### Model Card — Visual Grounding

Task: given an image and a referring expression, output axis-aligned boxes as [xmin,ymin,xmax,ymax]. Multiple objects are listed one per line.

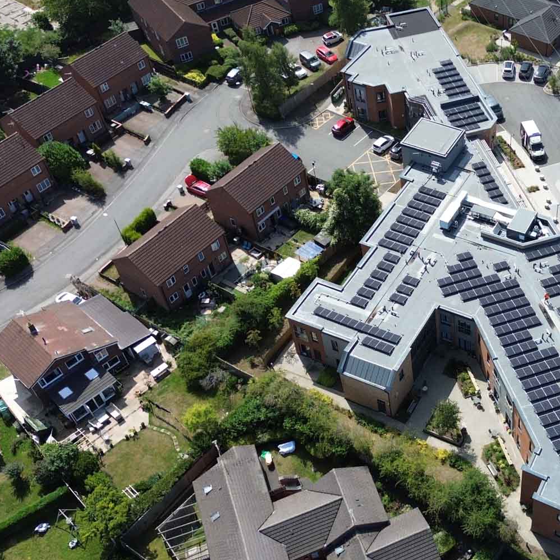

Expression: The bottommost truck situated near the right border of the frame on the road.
[523,119,547,158]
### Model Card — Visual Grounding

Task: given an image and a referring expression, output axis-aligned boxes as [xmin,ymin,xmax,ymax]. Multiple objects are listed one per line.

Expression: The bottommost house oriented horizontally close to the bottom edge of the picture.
[192,437,441,560]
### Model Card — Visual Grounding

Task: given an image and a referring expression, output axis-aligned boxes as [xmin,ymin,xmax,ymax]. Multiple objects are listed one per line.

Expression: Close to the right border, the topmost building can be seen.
[469,0,560,56]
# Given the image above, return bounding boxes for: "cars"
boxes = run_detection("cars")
[299,49,321,68]
[486,95,504,118]
[331,117,357,135]
[320,30,346,46]
[535,64,550,82]
[520,59,533,79]
[370,135,397,154]
[316,47,338,62]
[385,140,402,159]
[503,59,515,79]
[180,171,212,194]
[222,68,241,83]
[296,64,307,77]
[48,291,91,310]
